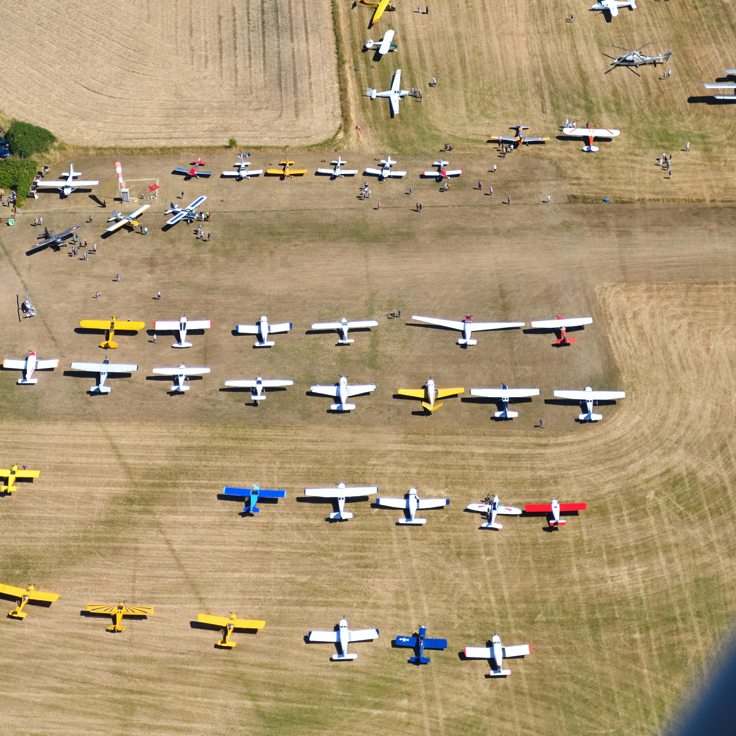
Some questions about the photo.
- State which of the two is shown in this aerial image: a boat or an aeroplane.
aeroplane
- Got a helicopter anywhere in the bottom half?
No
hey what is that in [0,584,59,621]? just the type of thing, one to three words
airplane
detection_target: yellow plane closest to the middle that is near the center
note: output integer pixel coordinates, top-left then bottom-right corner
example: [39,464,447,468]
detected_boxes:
[398,379,464,410]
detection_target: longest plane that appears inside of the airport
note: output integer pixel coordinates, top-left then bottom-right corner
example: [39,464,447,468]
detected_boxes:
[412,315,525,345]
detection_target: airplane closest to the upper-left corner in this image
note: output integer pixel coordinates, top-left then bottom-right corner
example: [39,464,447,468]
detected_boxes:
[38,164,99,199]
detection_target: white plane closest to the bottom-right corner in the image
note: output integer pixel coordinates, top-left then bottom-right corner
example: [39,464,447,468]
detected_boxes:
[463,634,531,676]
